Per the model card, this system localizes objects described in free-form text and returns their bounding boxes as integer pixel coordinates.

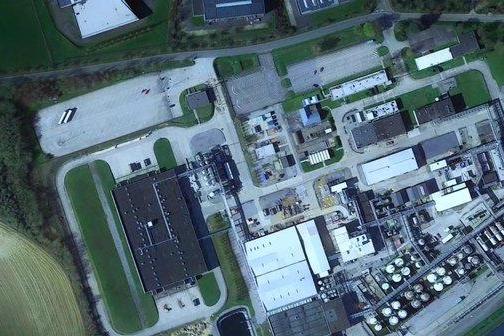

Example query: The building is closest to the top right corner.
[449,31,479,59]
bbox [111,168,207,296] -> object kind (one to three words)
building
